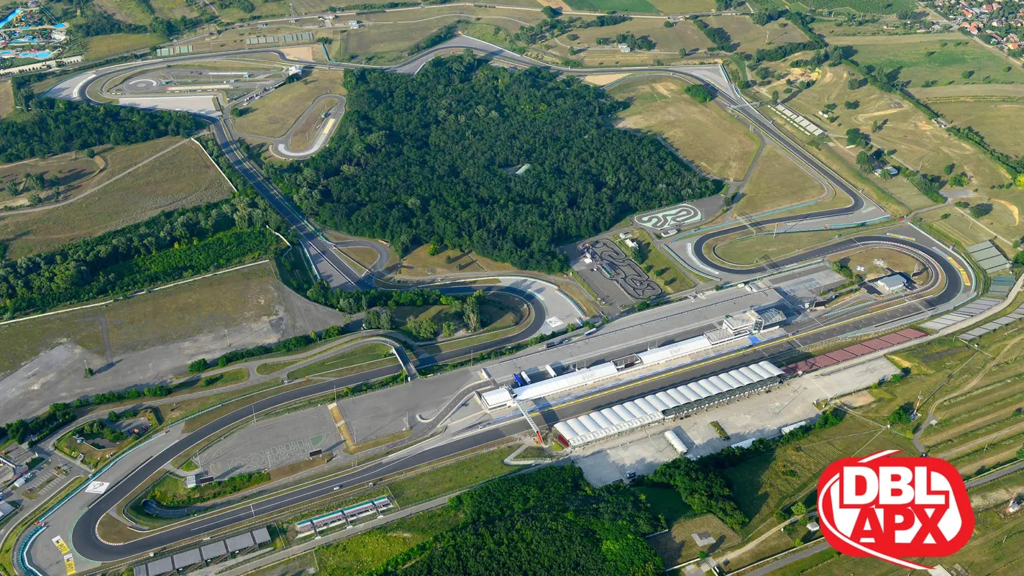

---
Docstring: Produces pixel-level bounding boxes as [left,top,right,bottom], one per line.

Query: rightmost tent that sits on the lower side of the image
[662,430,689,456]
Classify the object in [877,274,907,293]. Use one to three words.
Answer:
building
